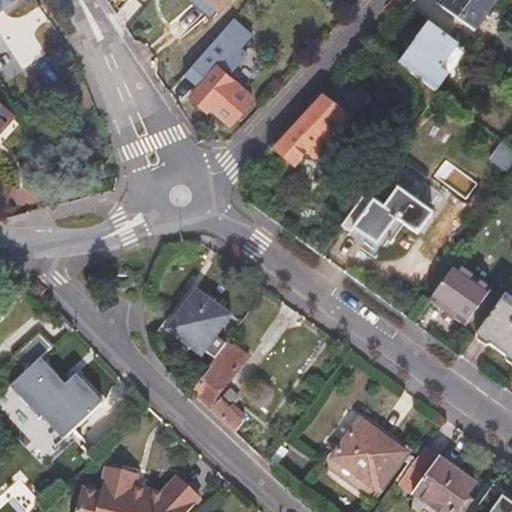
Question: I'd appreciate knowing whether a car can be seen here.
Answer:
Yes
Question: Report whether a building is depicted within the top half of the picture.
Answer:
Yes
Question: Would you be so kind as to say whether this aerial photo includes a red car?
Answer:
No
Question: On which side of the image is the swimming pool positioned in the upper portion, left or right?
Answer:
right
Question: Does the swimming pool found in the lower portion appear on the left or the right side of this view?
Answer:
left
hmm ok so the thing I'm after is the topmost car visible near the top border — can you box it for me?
[178,8,200,28]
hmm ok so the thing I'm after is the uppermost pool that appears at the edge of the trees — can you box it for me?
[432,159,478,200]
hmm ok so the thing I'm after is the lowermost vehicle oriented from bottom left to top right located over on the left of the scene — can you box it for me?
[174,80,196,99]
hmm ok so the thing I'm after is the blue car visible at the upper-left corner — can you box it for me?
[39,58,58,80]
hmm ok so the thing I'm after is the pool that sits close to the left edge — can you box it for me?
[12,334,54,371]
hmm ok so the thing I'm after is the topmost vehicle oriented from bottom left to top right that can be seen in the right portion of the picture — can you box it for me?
[383,408,402,430]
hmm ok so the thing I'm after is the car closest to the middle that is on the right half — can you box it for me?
[340,290,362,310]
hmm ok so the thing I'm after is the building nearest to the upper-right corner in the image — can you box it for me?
[436,0,502,34]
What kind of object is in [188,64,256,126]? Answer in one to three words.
house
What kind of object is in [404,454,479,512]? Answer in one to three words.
house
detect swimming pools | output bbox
[432,159,478,200]
[12,334,54,371]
